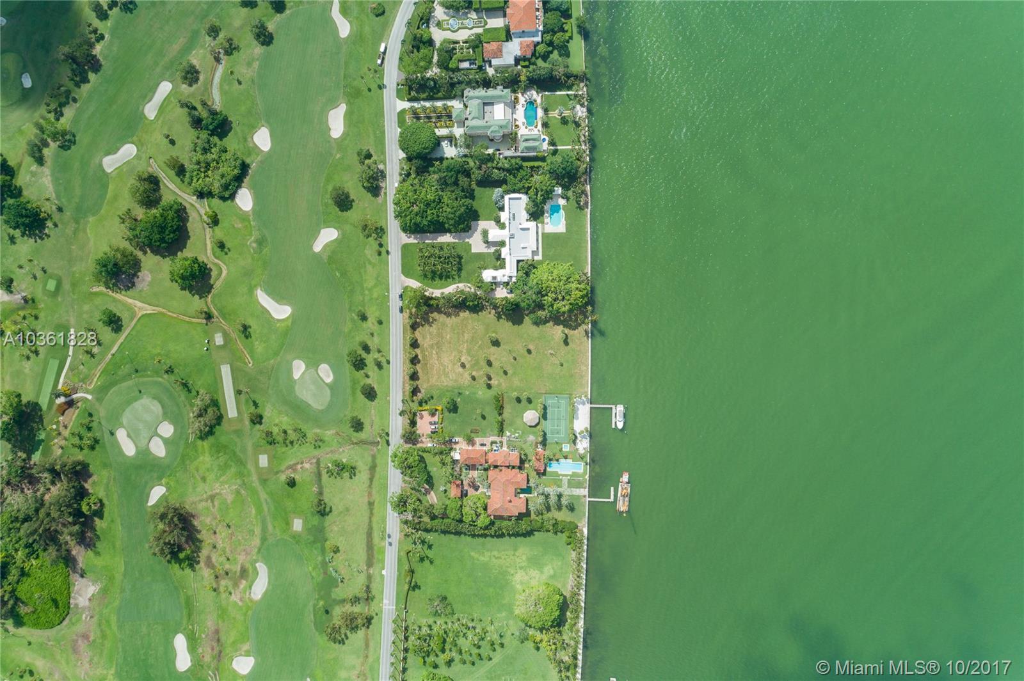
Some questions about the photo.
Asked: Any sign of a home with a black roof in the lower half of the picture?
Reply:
No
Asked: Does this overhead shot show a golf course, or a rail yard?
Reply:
golf course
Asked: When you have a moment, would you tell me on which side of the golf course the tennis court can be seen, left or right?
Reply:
to the right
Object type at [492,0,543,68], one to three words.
house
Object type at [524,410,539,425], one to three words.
gazebo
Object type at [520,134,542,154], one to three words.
building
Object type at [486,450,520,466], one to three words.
house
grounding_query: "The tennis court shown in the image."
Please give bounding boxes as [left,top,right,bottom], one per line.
[543,395,569,443]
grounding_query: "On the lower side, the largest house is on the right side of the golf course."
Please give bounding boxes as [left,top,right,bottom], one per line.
[488,468,527,516]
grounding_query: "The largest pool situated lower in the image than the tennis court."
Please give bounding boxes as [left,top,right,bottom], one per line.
[548,459,582,474]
